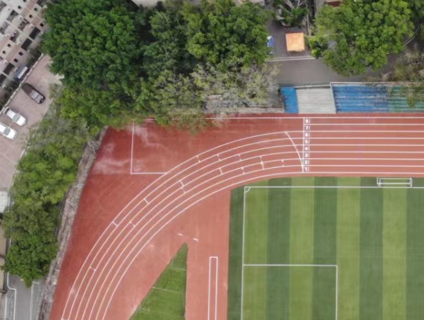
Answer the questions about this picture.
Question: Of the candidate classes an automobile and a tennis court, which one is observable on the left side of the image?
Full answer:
What appears on the left side of the image is an automobile.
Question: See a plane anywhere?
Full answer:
No, the scene contains no plane.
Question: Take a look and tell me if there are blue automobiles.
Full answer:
No, no blue automobile is visible in the view.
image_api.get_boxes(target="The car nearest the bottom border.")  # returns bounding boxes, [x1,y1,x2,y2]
[0,121,19,139]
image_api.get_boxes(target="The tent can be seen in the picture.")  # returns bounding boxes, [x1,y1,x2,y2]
[286,32,306,55]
